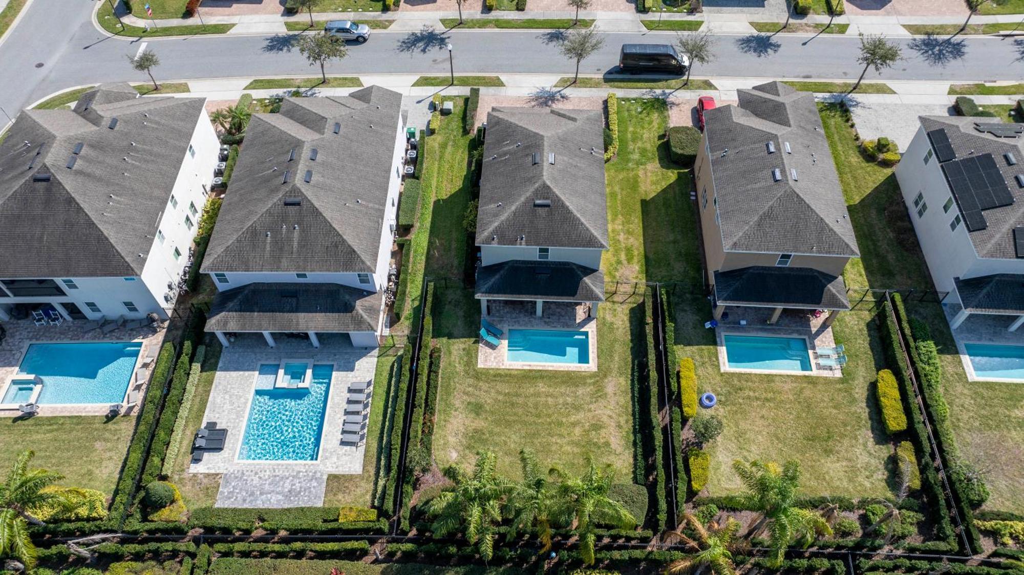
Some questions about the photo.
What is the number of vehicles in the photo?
3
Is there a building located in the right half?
Yes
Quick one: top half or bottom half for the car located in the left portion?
top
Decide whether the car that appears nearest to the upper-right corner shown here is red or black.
red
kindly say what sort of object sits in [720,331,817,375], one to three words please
swimming pool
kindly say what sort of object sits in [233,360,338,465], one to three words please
swimming pool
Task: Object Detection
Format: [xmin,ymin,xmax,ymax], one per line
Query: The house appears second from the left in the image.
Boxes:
[200,85,405,347]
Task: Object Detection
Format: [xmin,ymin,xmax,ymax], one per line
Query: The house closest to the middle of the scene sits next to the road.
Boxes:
[474,106,609,318]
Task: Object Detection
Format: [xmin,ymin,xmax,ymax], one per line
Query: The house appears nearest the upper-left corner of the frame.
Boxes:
[0,82,219,318]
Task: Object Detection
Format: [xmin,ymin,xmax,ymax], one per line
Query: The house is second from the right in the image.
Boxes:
[696,81,861,325]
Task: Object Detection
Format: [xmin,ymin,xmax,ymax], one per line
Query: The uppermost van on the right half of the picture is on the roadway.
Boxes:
[621,43,689,75]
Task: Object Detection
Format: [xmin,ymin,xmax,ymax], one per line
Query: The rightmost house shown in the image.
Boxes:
[897,116,1024,331]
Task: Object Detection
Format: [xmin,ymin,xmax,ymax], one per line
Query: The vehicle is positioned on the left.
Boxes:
[323,17,372,42]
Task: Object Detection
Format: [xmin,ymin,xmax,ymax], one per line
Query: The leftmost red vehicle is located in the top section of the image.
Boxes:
[697,94,718,129]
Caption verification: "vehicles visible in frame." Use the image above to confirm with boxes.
[697,94,718,129]
[621,43,689,75]
[323,17,372,42]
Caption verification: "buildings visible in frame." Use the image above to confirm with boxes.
[897,116,1024,331]
[0,82,219,318]
[200,85,405,347]
[474,106,609,318]
[696,81,861,325]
